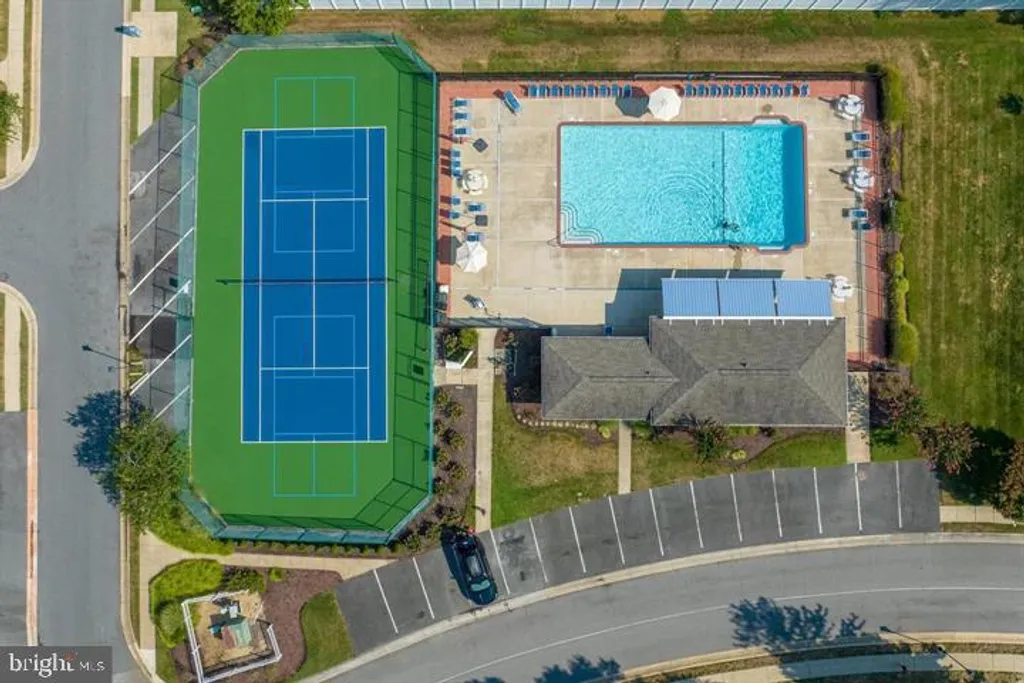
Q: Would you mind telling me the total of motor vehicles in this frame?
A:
1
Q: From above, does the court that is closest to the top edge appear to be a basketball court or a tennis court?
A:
tennis court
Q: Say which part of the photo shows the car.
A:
bottom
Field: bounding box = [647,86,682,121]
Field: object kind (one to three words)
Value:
umbrella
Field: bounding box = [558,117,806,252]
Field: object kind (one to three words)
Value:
swimming pool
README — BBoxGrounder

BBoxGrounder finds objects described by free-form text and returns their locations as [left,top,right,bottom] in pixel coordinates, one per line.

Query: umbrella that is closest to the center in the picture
[455,240,488,273]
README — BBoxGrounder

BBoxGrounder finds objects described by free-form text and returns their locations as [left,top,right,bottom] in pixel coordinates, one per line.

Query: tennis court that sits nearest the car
[190,45,439,534]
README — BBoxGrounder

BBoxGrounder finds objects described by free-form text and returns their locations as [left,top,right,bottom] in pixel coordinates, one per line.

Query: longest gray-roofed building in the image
[540,316,847,427]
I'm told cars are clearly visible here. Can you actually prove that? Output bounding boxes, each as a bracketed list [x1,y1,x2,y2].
[449,530,491,609]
